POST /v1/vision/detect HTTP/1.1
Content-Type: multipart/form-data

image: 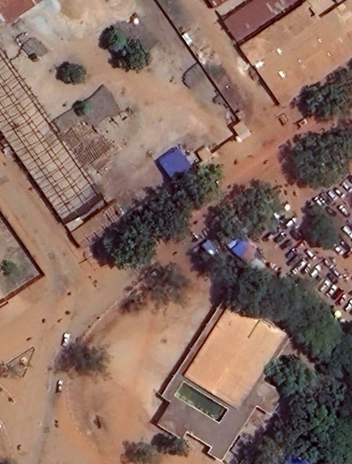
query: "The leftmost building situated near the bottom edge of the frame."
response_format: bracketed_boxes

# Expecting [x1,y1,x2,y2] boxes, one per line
[157,301,290,461]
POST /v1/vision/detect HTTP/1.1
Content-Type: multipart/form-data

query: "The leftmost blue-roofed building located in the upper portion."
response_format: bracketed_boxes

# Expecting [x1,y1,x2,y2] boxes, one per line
[160,147,190,177]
